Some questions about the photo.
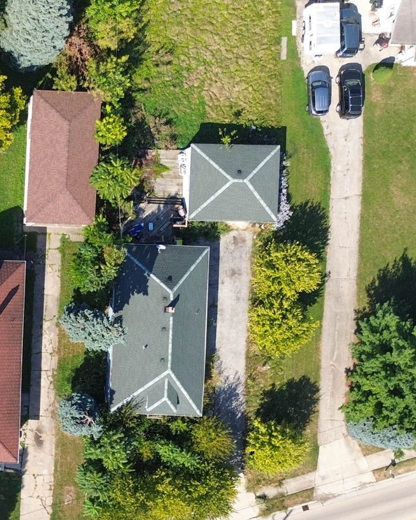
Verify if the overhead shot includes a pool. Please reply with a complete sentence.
No, there is no pool in the image.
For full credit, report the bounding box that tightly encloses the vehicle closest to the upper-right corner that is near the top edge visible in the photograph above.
[338,8,365,57]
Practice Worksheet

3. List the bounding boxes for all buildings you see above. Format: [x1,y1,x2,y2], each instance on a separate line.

[179,142,281,225]
[385,0,416,67]
[23,88,103,227]
[0,259,26,471]
[104,241,210,418]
